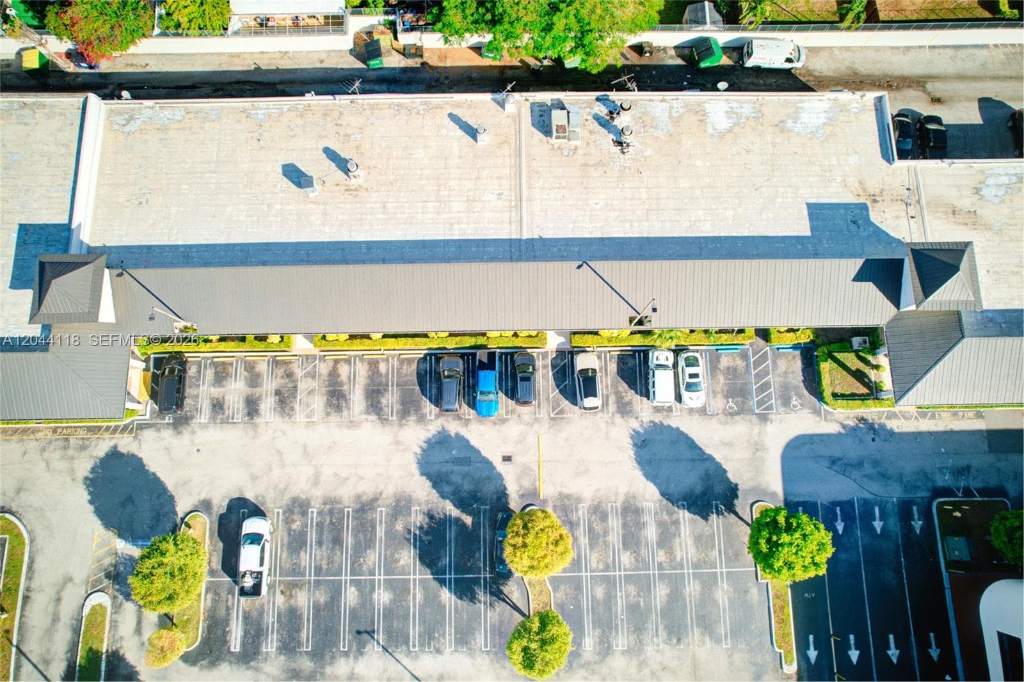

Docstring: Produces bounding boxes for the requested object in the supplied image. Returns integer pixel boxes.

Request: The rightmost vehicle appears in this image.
[999,111,1024,160]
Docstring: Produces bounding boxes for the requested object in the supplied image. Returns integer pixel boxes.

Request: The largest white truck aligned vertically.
[240,518,277,600]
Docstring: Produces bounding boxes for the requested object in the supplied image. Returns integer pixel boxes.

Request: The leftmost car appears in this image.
[156,354,191,418]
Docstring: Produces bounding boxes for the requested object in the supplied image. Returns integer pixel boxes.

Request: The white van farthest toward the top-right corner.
[739,37,805,72]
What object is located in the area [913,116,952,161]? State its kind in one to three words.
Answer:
car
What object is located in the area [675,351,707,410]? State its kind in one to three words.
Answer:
car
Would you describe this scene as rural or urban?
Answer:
urban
